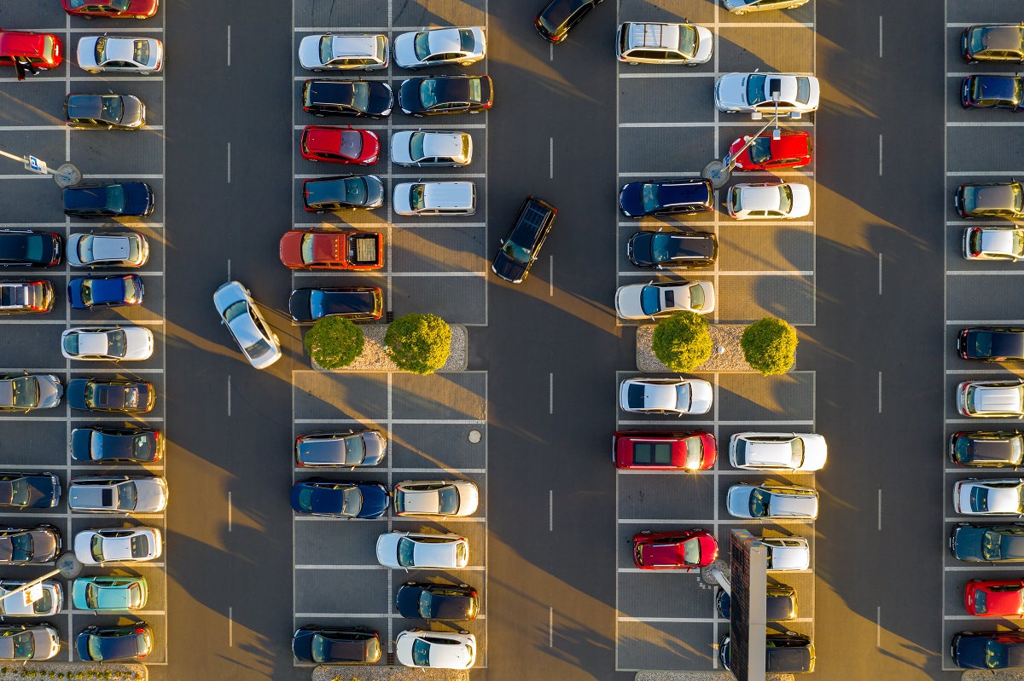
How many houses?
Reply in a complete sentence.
There are no houses in the image.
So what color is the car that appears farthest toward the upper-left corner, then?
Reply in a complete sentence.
The color of the car that appears farthest toward the upper-left corner is red.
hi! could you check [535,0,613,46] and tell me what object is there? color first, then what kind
black car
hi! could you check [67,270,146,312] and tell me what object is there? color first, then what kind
blue car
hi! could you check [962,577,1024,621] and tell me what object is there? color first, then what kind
red car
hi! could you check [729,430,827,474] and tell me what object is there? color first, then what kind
white car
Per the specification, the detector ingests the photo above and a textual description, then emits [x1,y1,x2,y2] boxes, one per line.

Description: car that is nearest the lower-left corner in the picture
[0,614,62,661]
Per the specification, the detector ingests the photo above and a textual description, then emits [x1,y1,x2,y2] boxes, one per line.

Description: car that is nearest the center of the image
[494,197,556,281]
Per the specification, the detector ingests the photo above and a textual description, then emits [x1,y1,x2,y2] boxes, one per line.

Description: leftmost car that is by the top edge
[0,31,65,84]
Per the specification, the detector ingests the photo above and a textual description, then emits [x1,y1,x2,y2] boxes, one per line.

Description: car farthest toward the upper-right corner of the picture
[959,24,1024,66]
